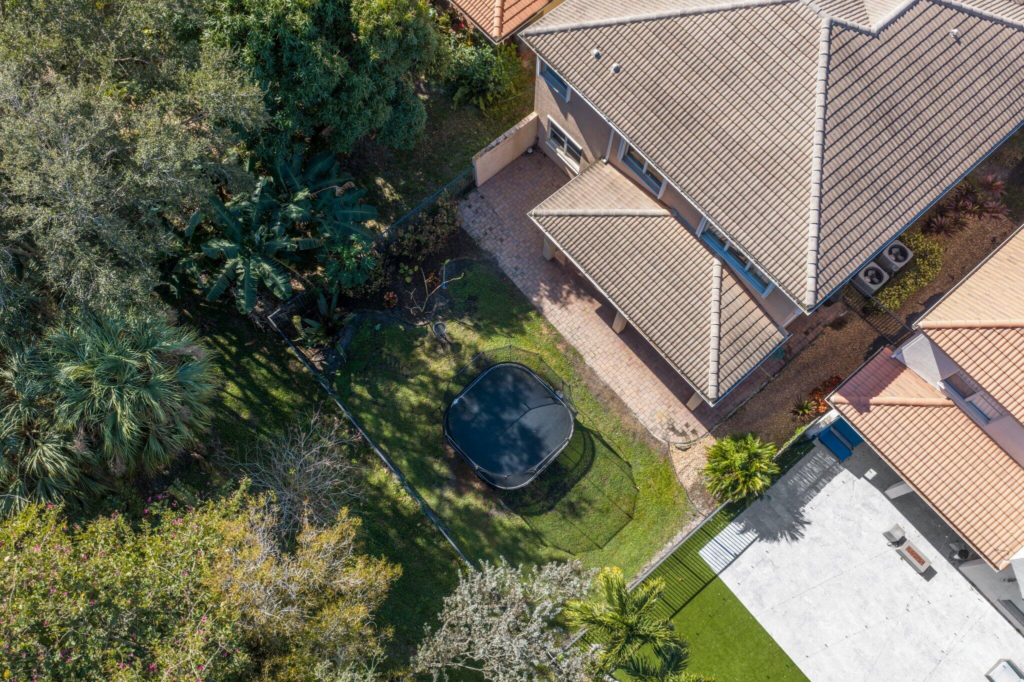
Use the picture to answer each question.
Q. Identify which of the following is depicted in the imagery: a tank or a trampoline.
trampoline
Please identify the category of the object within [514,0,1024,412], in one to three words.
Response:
house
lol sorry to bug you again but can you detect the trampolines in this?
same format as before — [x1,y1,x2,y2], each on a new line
[437,346,582,494]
